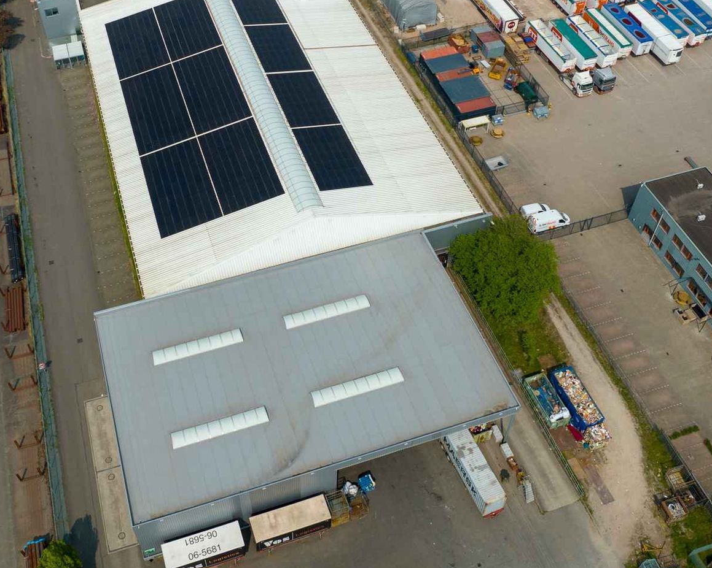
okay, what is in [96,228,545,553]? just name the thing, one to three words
building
